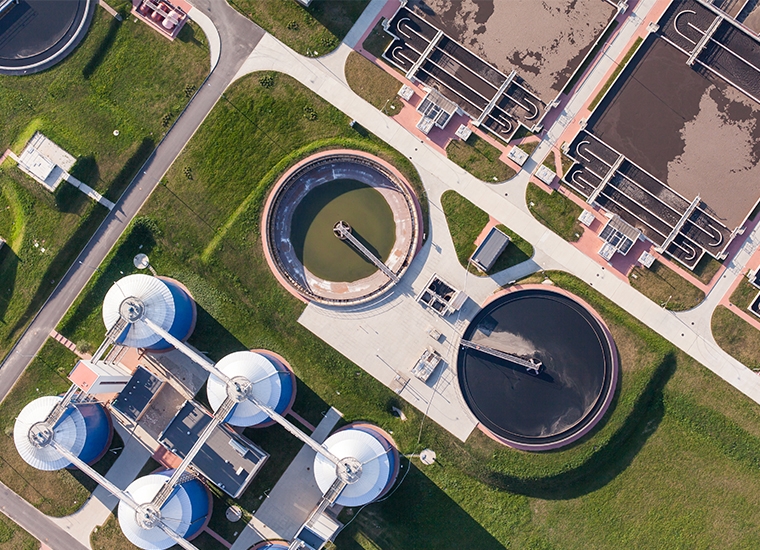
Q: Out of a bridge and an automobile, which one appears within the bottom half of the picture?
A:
bridge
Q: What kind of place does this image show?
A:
industrial area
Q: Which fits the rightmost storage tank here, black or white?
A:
black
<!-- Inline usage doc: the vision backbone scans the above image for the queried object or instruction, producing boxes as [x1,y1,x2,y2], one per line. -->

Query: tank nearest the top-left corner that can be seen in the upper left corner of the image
[0,0,96,76]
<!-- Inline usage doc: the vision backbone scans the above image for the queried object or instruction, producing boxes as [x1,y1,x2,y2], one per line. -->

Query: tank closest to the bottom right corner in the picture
[459,286,619,451]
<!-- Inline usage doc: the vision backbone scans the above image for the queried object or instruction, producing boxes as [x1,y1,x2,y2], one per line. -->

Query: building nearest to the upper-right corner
[597,213,643,261]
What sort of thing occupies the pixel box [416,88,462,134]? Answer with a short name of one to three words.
building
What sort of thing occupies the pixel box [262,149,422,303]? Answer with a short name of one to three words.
storage tank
